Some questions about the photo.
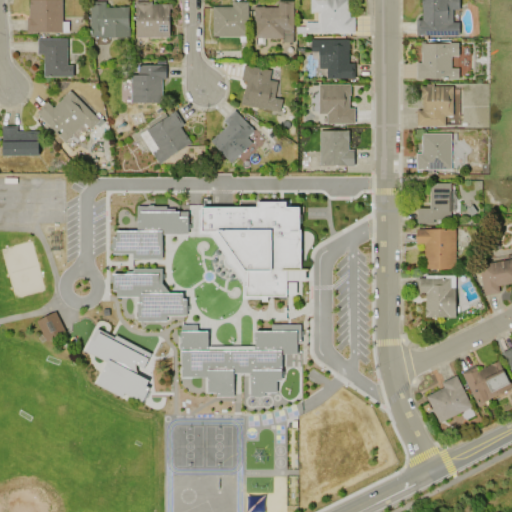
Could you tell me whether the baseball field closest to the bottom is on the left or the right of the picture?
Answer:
left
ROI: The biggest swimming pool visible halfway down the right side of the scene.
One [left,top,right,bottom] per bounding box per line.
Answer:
[461,280,479,302]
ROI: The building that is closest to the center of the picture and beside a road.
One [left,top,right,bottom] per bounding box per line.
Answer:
[203,201,304,302]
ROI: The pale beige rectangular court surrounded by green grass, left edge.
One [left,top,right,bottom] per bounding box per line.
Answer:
[2,240,46,298]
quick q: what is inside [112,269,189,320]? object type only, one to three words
building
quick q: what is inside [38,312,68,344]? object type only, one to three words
shed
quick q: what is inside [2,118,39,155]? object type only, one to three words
house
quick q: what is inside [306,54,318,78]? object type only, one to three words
swimming pool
